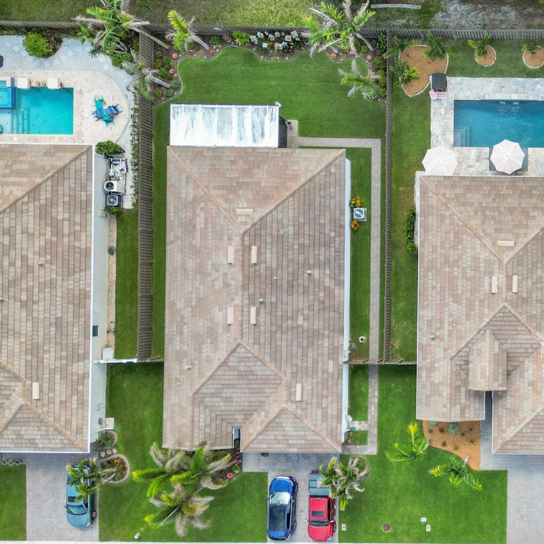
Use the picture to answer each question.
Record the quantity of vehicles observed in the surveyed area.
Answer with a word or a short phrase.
3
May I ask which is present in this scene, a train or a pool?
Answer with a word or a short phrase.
pool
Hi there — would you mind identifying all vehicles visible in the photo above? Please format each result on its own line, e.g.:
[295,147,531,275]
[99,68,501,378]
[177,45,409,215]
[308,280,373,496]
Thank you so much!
[303,466,338,542]
[263,474,301,541]
[61,460,102,528]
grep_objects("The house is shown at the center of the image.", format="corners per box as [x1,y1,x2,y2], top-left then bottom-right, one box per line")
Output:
[163,145,353,454]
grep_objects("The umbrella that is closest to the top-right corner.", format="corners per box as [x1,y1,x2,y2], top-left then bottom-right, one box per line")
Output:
[490,140,526,175]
